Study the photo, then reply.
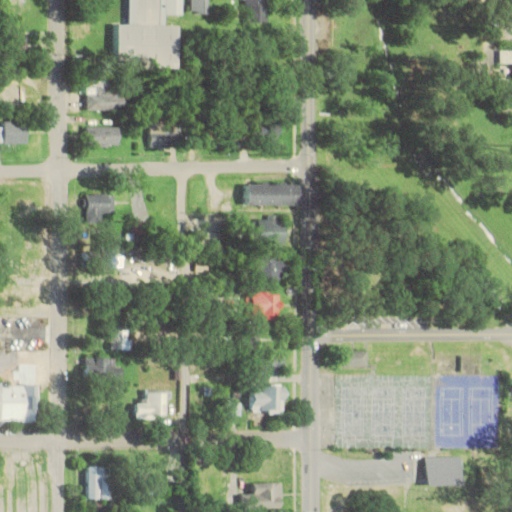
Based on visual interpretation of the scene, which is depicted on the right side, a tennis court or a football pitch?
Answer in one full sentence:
There is a tennis court on the right side.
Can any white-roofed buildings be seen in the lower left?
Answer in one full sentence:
Yes, I can see a white-roofed building in the lower left.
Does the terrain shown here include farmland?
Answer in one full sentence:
No, the picture contains no farmland.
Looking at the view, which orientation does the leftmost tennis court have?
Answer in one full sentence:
The leftmost tennis court runs from top to bottom in the image.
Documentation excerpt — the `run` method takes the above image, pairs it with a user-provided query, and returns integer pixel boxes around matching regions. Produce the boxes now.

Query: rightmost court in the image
[466,376,498,448]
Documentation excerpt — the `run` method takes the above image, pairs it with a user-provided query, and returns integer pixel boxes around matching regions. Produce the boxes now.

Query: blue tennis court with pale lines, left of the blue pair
[436,376,466,448]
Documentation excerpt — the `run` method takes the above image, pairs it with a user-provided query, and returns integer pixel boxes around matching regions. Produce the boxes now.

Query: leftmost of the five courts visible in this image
[335,375,368,448]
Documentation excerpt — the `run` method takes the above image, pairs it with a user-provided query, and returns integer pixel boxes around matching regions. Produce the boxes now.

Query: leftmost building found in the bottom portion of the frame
[0,364,38,424]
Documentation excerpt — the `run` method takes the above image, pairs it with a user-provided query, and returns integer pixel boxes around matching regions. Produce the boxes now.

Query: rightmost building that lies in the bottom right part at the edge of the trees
[426,458,466,488]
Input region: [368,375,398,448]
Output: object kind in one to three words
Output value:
tennis court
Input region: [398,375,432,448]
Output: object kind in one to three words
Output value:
tennis court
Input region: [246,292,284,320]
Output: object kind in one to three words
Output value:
house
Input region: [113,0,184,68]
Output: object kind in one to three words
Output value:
building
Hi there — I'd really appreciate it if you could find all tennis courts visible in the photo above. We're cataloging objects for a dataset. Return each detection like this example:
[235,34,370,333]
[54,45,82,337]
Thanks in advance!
[436,376,466,448]
[466,376,498,448]
[368,375,398,448]
[398,375,432,448]
[335,375,368,448]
